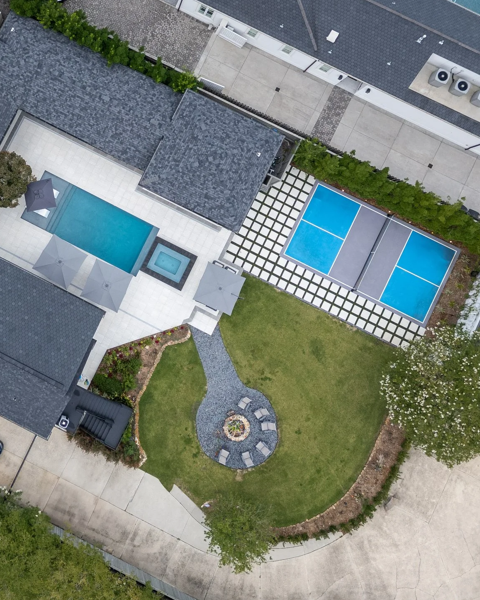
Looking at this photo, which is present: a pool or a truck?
pool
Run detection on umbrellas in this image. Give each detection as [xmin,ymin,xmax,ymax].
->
[32,234,87,290]
[26,178,57,213]
[81,259,134,312]
[193,261,246,315]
